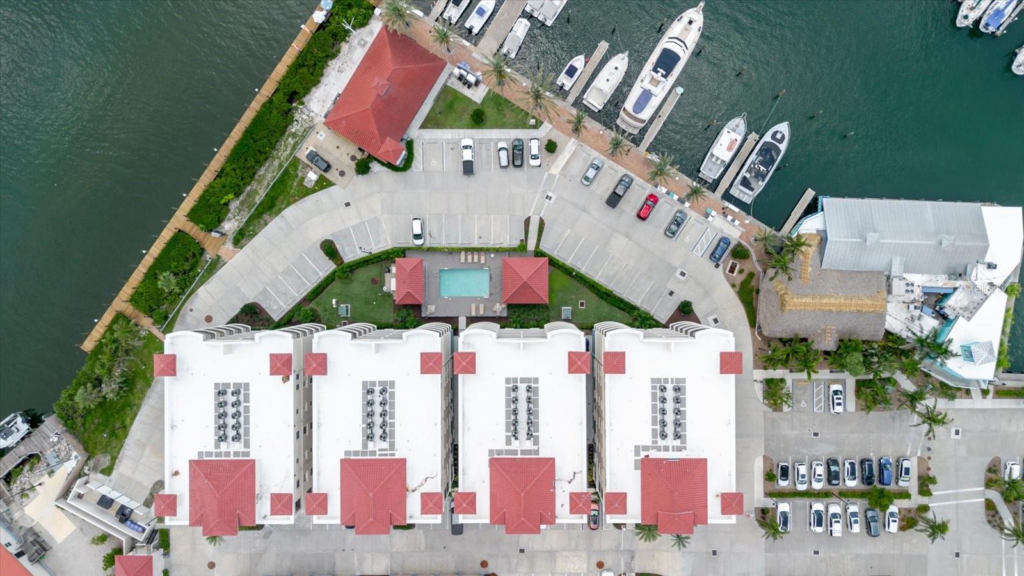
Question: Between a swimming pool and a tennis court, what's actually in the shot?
swimming pool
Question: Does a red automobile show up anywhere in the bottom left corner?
No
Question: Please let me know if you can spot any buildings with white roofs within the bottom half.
Yes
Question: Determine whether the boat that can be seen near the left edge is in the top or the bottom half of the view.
bottom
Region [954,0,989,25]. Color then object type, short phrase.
white boat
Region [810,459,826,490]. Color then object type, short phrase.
white car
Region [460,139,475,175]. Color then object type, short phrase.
white vehicle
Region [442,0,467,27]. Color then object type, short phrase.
white boat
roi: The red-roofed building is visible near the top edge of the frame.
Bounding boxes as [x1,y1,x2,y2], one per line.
[324,24,447,175]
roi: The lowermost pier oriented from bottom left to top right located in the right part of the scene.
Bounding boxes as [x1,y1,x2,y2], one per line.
[779,187,816,233]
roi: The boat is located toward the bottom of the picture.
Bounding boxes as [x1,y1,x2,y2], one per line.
[0,408,39,459]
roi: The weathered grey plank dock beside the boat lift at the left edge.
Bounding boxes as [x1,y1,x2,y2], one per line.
[0,414,62,478]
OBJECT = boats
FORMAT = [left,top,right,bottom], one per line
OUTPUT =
[500,19,530,62]
[524,0,547,18]
[618,0,707,135]
[557,55,585,92]
[465,0,494,36]
[954,0,989,25]
[726,123,791,208]
[977,0,1017,31]
[442,0,467,27]
[696,112,748,188]
[535,0,566,28]
[0,408,39,459]
[579,48,631,118]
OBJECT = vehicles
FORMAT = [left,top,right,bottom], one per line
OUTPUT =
[859,456,876,486]
[793,460,809,491]
[863,506,880,537]
[776,500,791,532]
[1019,457,1024,488]
[510,138,525,169]
[883,507,900,534]
[411,216,425,247]
[304,148,334,174]
[876,456,893,486]
[809,501,826,533]
[844,502,861,533]
[825,455,841,486]
[708,234,732,265]
[663,208,688,239]
[448,494,464,534]
[810,459,826,490]
[527,137,542,168]
[895,456,913,487]
[495,142,509,169]
[826,503,843,536]
[635,192,660,222]
[580,156,604,187]
[460,139,475,175]
[605,173,633,209]
[1002,459,1021,489]
[842,458,858,487]
[827,382,845,414]
[587,496,600,528]
[776,461,790,486]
